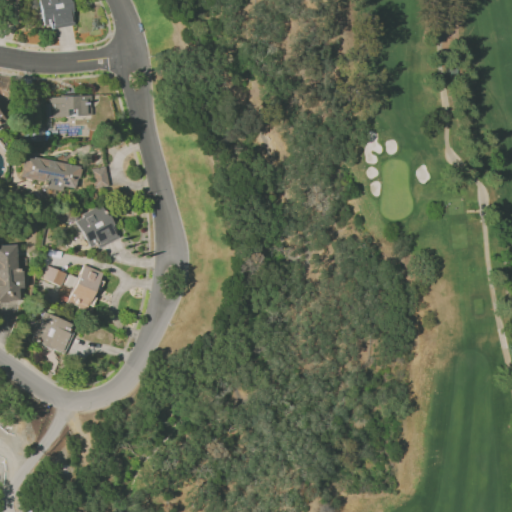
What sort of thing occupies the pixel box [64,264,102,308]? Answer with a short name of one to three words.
house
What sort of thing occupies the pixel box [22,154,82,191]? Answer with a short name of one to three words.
house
